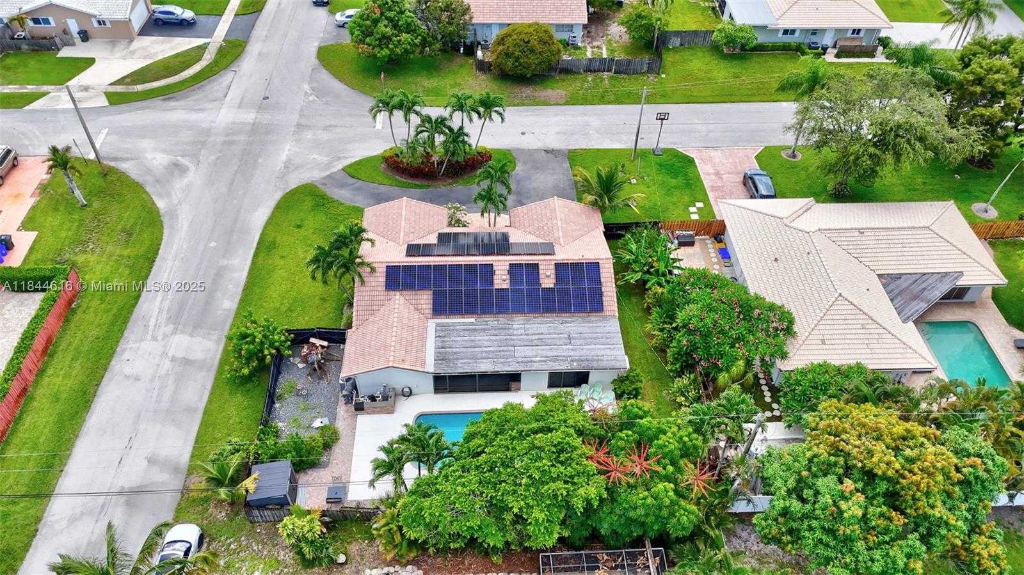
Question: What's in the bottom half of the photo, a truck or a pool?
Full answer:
What appears in the bottom half of the photo is a pool.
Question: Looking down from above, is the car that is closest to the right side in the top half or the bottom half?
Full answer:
Seen from above, the car that is closest to the right side lies in the top half of the view.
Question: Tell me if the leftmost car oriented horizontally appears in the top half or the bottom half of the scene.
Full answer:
The leftmost car oriented horizontally sits in the top half of the picture.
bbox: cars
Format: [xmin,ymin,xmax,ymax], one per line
[336,7,378,27]
[140,523,202,575]
[0,147,19,183]
[737,169,775,199]
[149,4,198,26]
